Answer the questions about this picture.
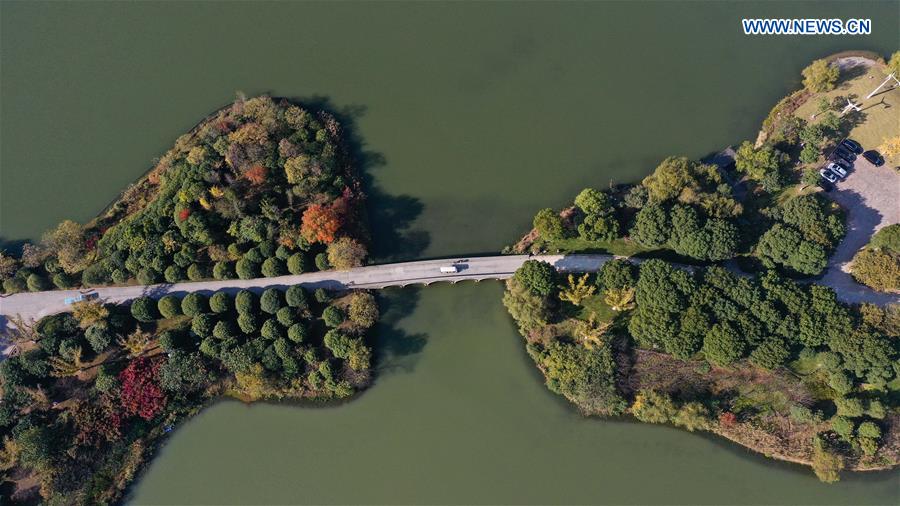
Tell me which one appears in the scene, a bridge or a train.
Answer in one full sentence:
Visible in the photo is a bridge.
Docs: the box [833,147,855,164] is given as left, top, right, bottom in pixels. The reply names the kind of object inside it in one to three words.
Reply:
car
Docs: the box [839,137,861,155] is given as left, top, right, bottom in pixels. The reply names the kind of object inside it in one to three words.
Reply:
car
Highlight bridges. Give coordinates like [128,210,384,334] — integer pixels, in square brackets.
[357,252,522,293]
